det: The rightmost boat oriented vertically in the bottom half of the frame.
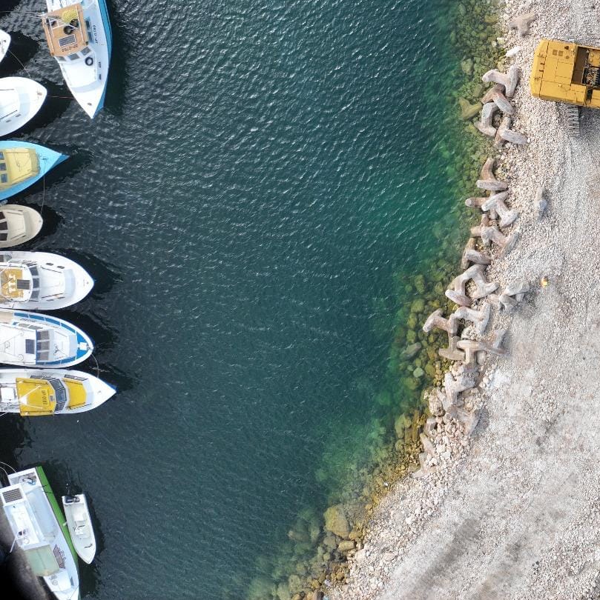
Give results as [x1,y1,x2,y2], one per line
[67,486,100,565]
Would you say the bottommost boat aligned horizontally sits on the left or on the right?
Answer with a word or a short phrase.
left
